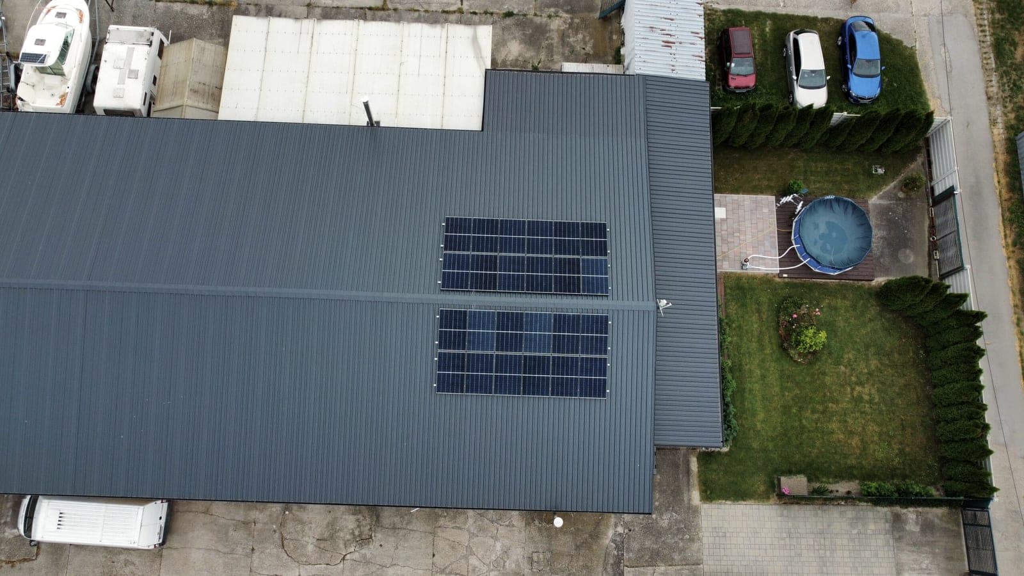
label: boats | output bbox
[19,0,90,112]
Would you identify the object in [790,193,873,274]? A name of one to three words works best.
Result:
swimming pool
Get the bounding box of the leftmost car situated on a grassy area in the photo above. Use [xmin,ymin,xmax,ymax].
[715,24,757,94]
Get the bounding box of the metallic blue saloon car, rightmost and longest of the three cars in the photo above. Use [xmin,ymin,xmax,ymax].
[837,17,887,102]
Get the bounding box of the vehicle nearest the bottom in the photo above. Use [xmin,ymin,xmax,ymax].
[21,498,173,550]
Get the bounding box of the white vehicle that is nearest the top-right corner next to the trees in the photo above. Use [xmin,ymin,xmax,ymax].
[782,33,832,111]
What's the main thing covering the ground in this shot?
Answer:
buildings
